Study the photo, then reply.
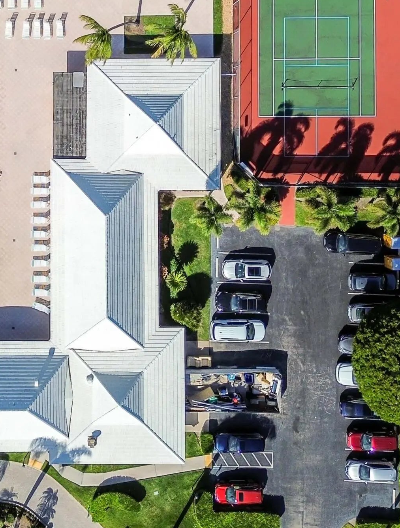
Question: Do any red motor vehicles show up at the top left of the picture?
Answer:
No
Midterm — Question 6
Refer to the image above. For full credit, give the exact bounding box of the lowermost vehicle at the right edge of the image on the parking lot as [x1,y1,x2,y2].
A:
[345,457,395,484]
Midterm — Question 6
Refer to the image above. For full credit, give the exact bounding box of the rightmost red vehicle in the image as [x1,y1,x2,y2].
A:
[346,428,397,455]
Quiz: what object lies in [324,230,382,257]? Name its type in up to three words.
car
